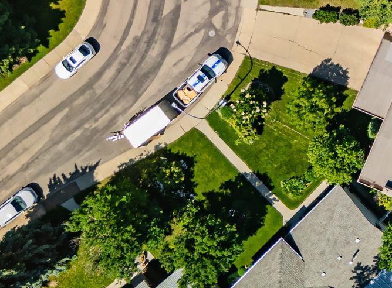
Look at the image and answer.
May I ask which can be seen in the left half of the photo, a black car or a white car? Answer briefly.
white car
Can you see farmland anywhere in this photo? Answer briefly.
No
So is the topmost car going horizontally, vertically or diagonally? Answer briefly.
diagonally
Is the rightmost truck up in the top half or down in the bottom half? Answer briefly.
top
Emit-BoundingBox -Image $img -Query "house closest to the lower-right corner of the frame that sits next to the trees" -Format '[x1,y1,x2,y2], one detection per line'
[239,181,392,288]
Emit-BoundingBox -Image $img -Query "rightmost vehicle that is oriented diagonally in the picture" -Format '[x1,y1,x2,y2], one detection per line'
[169,55,224,112]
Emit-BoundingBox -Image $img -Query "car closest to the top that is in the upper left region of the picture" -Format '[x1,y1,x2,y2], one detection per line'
[54,39,95,81]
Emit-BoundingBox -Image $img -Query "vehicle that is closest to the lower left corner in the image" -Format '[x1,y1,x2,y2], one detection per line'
[0,190,34,227]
